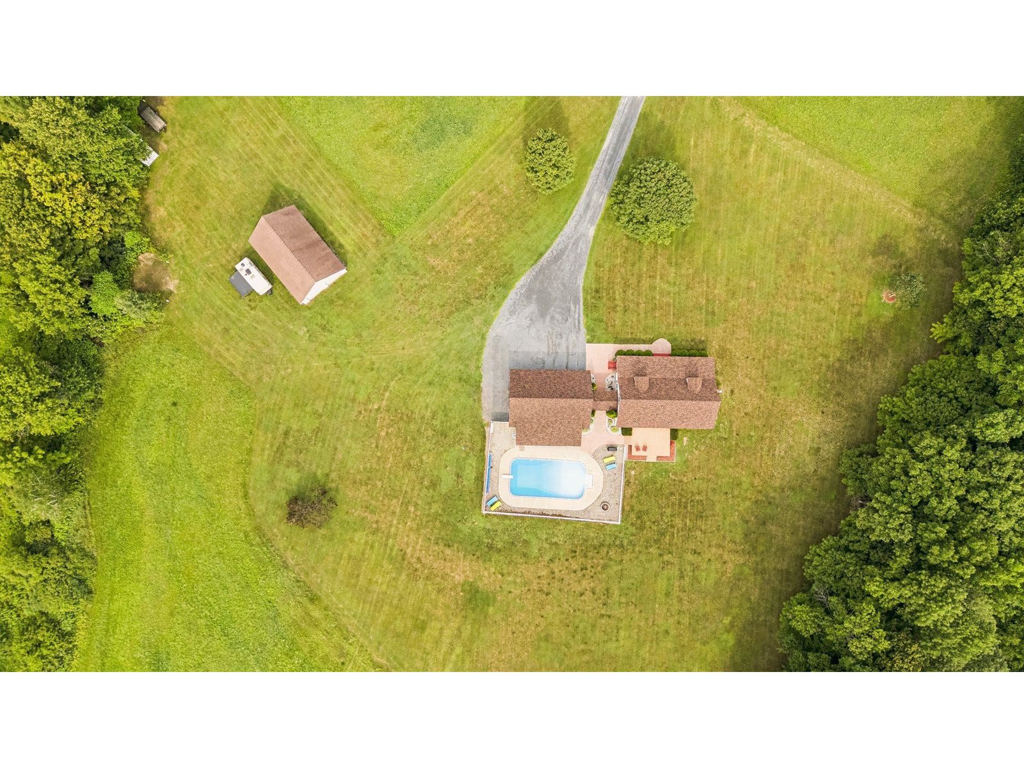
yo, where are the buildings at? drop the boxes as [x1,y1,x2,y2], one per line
[607,353,721,429]
[249,203,348,305]
[509,369,593,446]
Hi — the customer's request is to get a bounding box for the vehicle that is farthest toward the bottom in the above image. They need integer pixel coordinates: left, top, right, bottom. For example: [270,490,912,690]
[232,257,277,299]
